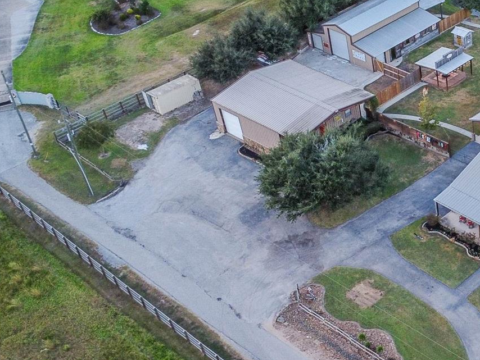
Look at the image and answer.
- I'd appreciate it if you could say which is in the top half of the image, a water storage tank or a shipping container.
shipping container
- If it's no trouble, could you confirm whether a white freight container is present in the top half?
Yes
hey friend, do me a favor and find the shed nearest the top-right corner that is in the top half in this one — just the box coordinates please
[452,26,473,48]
